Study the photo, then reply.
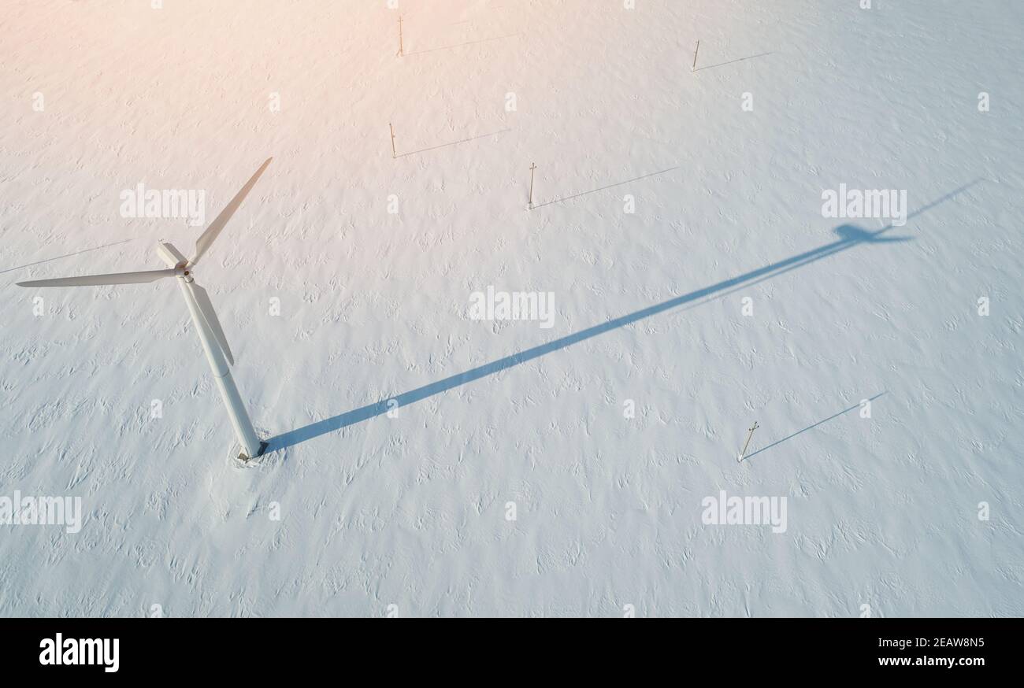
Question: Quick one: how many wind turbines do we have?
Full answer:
I count just 1 wind turbine.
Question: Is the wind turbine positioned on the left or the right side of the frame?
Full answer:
The wind turbine sits on the left side.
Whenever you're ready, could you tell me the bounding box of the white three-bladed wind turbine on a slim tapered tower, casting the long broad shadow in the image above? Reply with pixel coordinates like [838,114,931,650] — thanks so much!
[16,154,271,463]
